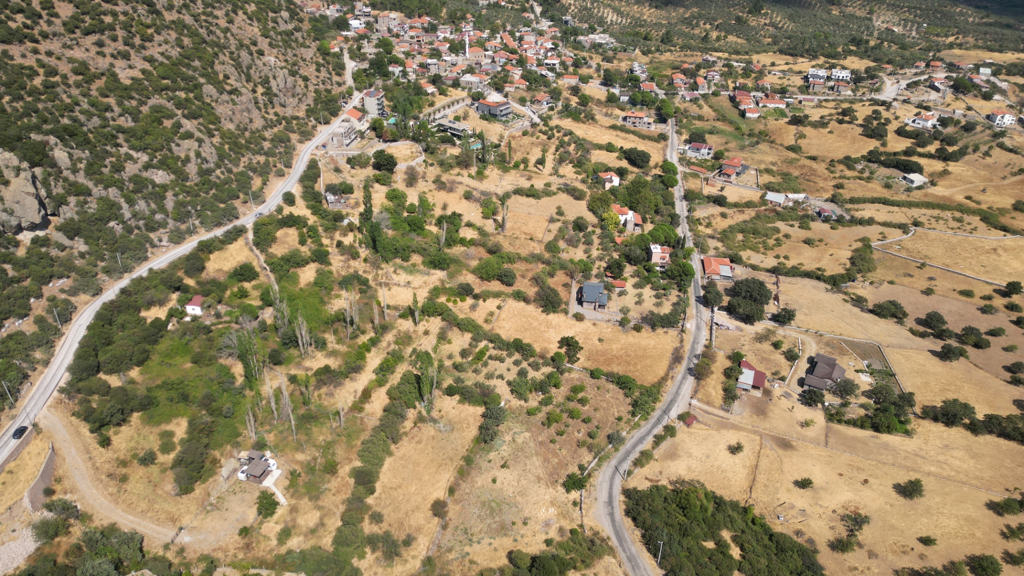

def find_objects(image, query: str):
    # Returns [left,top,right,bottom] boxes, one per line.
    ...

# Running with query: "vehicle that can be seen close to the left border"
[8,424,30,438]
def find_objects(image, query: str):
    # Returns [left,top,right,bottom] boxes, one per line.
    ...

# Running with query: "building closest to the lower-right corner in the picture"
[802,352,842,393]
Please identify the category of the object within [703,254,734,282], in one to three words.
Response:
house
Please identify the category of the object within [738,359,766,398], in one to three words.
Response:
barn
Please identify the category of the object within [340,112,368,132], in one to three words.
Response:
house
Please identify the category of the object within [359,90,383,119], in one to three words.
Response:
building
